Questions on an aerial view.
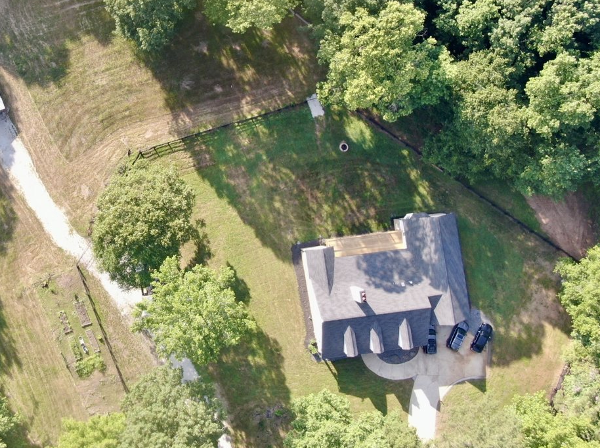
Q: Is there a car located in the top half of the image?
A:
No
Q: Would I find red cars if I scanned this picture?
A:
No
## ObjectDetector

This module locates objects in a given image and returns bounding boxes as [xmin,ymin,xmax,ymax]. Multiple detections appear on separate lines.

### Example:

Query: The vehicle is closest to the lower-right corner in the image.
[471,323,492,354]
